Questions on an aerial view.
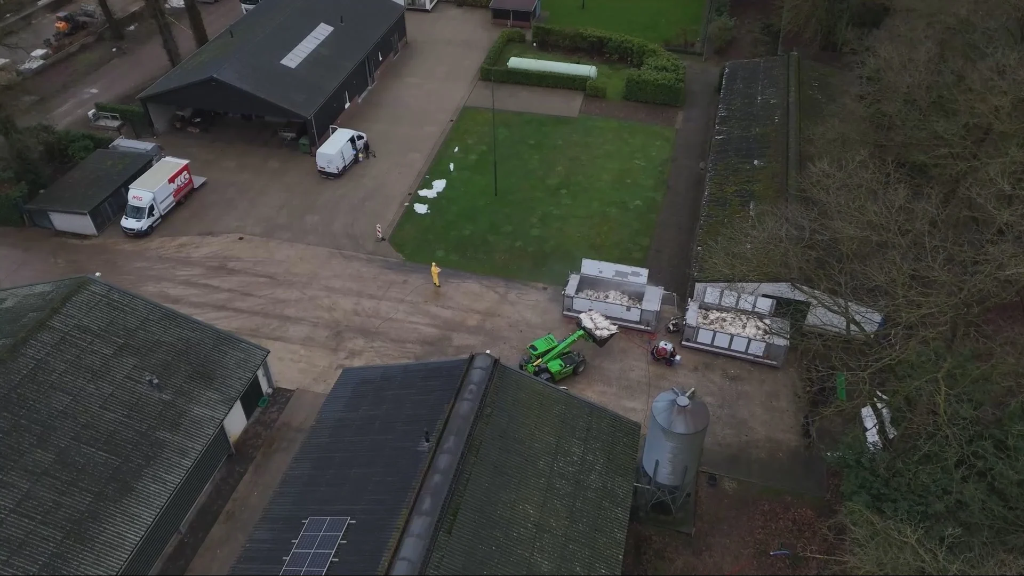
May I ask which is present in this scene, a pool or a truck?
truck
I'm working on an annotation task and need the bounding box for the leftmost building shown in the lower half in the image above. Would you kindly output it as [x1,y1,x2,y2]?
[0,273,273,576]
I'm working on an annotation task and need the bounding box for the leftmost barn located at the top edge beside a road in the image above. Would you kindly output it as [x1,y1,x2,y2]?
[135,0,410,155]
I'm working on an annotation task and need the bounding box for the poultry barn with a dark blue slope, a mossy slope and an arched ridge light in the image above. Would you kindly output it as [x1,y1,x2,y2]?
[226,349,642,576]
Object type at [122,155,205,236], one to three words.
truck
